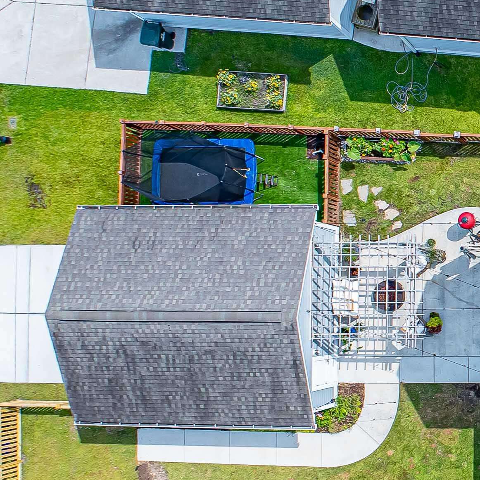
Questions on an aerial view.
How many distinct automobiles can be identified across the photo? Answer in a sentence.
The count of automobiles is 0.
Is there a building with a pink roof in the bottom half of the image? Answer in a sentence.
No, no building with a pink roof can be made out in the bottom half of the image.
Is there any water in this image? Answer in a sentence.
No, the picture contains no water.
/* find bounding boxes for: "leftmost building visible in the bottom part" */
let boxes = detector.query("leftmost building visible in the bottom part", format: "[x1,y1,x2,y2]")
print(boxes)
[42,201,338,430]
